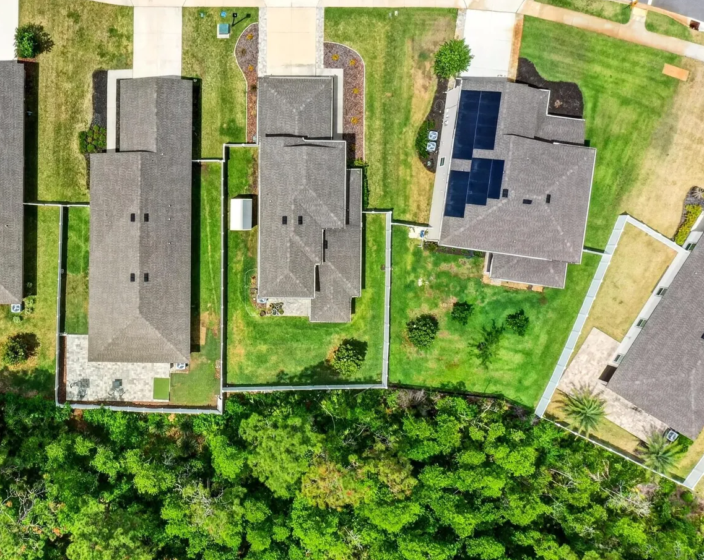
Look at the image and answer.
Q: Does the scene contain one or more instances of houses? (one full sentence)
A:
Yes, there is a house in the image.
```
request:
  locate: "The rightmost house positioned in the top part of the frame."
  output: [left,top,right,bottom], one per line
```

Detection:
[426,79,597,289]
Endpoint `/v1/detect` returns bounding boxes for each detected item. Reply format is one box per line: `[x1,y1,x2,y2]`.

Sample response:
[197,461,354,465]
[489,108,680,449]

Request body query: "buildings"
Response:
[426,79,597,289]
[231,199,252,231]
[257,77,362,323]
[596,210,704,440]
[0,62,24,303]
[88,77,192,364]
